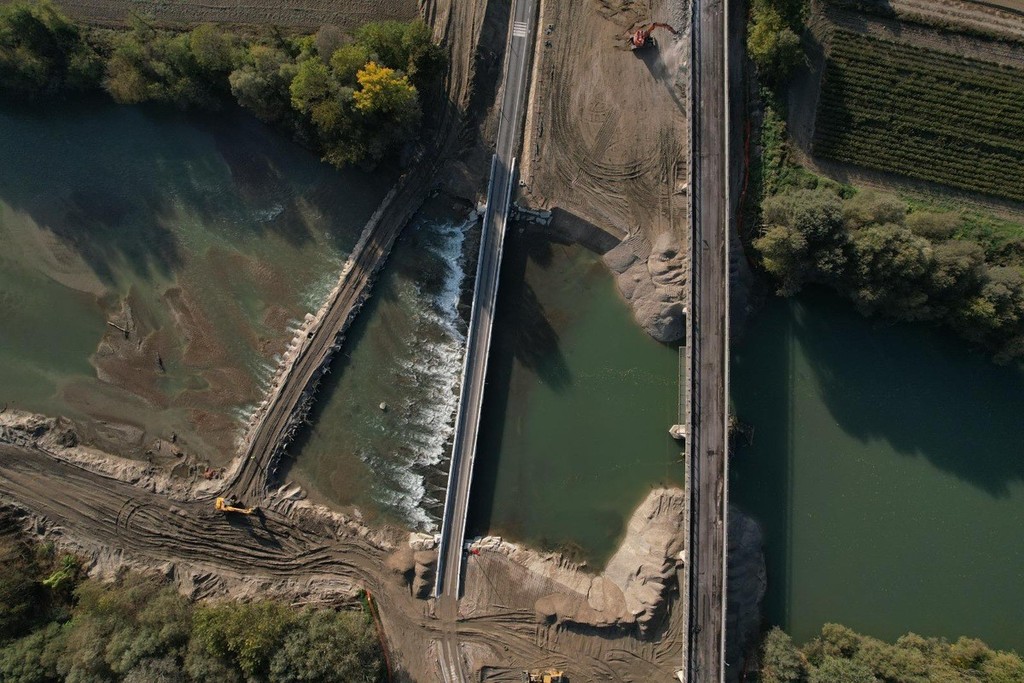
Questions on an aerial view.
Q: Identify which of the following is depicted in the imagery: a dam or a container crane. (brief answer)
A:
dam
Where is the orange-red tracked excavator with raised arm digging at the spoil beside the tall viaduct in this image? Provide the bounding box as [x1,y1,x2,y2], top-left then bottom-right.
[629,30,680,50]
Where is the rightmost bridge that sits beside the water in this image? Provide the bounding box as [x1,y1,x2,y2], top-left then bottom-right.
[668,0,731,683]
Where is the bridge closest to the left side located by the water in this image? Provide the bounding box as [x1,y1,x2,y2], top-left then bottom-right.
[435,153,515,603]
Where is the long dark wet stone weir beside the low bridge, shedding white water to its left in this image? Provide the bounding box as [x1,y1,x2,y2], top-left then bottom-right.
[424,208,485,537]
